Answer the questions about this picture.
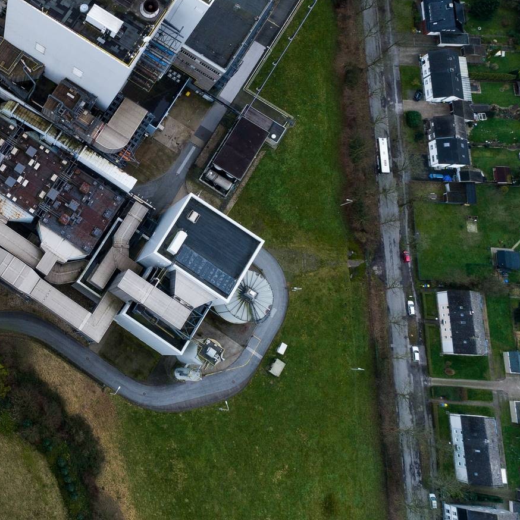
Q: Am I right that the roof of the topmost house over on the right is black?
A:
Yes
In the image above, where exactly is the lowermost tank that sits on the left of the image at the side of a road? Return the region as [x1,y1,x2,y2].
[171,364,199,384]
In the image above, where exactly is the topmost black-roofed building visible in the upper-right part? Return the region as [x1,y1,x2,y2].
[415,0,464,38]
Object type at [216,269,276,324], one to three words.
storage tank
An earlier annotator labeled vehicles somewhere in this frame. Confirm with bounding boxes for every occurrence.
[407,300,416,316]
[377,135,394,173]
[403,250,412,263]
[412,346,422,363]
[414,88,423,102]
[430,493,440,510]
